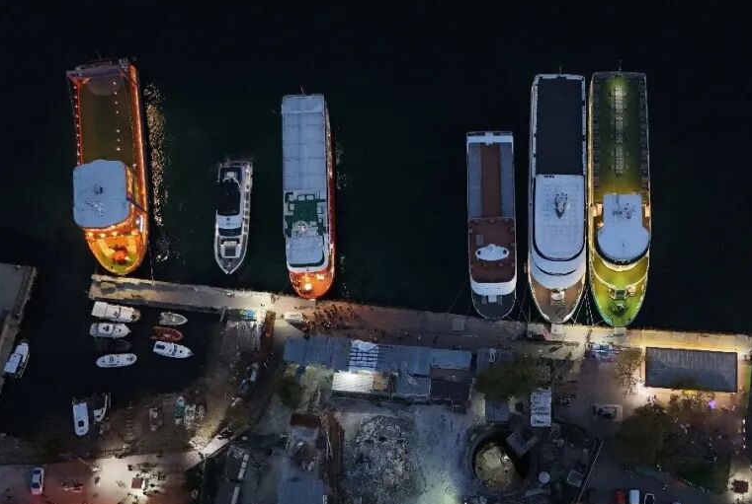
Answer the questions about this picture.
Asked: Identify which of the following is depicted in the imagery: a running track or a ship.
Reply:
ship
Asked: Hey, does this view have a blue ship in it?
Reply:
Yes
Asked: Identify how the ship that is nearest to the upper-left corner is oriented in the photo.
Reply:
from top to bottom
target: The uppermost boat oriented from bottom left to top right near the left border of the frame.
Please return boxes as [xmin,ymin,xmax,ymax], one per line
[0,344,30,379]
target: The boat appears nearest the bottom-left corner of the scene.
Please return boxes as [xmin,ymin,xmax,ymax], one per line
[68,398,90,435]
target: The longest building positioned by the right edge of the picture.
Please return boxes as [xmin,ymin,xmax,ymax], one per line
[643,346,741,397]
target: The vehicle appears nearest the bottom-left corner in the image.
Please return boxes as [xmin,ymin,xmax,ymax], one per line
[28,469,45,494]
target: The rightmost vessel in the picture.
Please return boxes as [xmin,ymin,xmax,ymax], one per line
[581,70,650,338]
